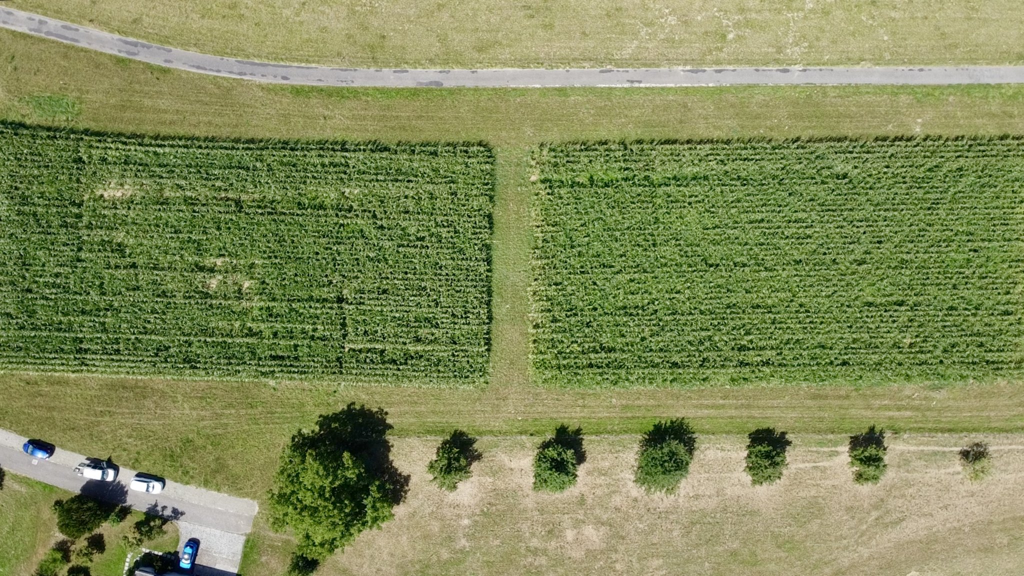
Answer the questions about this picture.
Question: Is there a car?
Yes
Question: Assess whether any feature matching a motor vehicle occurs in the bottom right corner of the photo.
No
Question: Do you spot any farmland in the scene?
Yes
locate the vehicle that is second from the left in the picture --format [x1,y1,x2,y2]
[72,459,118,483]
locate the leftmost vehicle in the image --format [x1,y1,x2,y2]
[23,439,56,460]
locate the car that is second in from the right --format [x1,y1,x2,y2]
[129,475,164,495]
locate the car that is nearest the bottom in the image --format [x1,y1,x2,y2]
[179,539,199,571]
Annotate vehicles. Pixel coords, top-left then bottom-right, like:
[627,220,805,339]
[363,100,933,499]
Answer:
[23,439,56,460]
[72,459,118,483]
[129,475,164,495]
[179,539,199,571]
